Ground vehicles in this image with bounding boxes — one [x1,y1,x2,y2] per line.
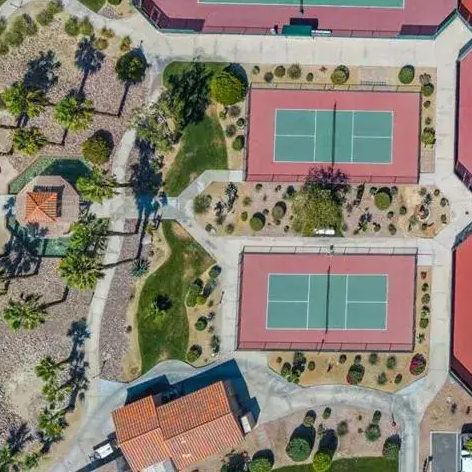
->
[94,437,119,459]
[460,431,472,472]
